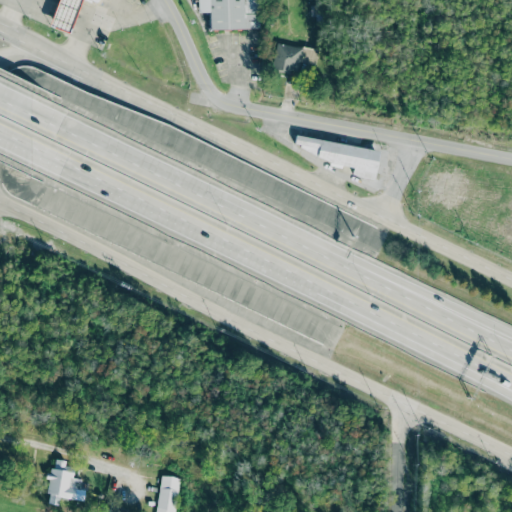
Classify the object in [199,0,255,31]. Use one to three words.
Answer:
building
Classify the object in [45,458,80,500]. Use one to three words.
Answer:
house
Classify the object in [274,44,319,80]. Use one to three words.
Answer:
house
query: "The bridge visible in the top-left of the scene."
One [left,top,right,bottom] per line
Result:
[0,68,72,181]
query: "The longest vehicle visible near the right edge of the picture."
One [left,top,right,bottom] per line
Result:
[483,370,510,386]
